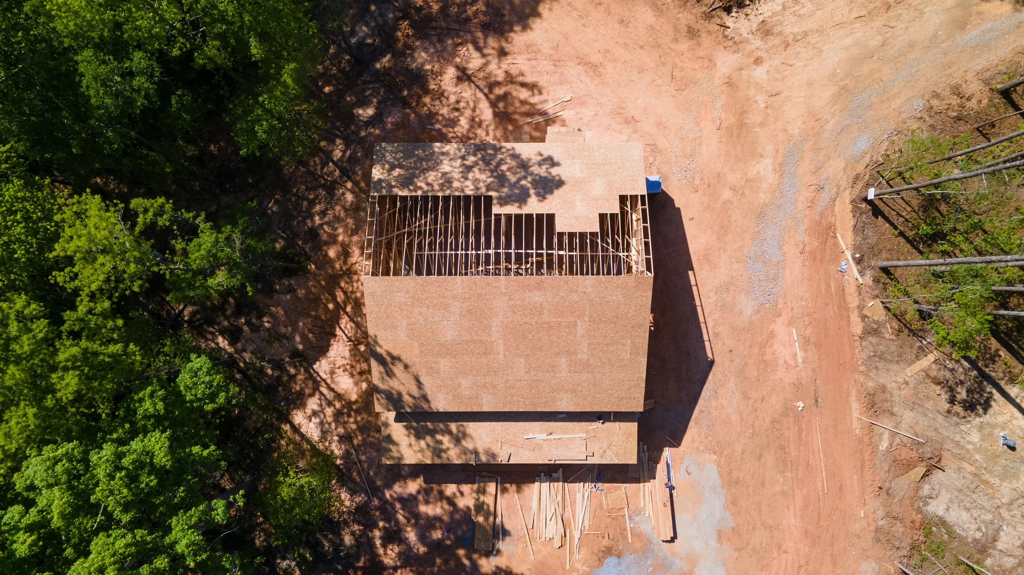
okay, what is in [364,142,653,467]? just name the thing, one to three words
house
